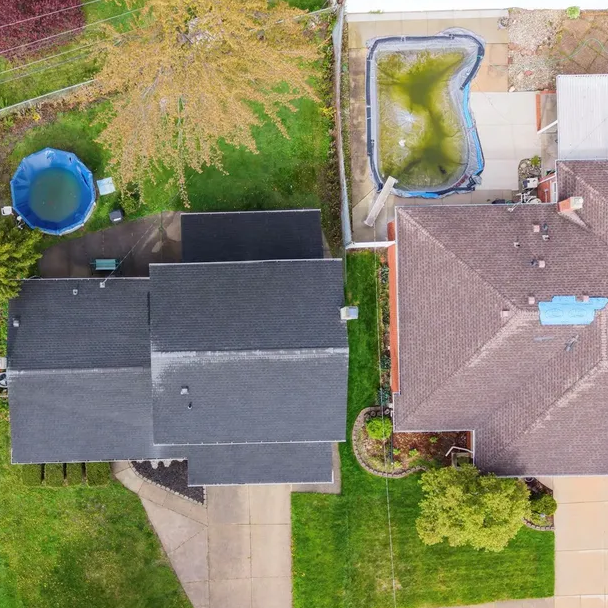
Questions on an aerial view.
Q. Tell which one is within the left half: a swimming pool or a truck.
swimming pool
